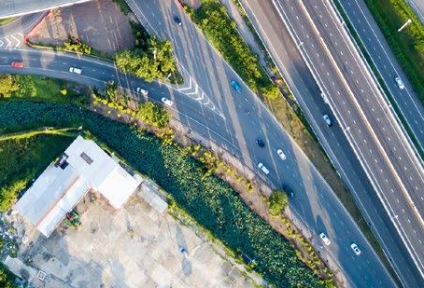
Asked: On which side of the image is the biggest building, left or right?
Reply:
left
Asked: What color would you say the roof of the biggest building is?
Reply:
white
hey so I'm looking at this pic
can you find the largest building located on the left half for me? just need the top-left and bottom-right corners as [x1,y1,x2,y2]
[15,136,142,238]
